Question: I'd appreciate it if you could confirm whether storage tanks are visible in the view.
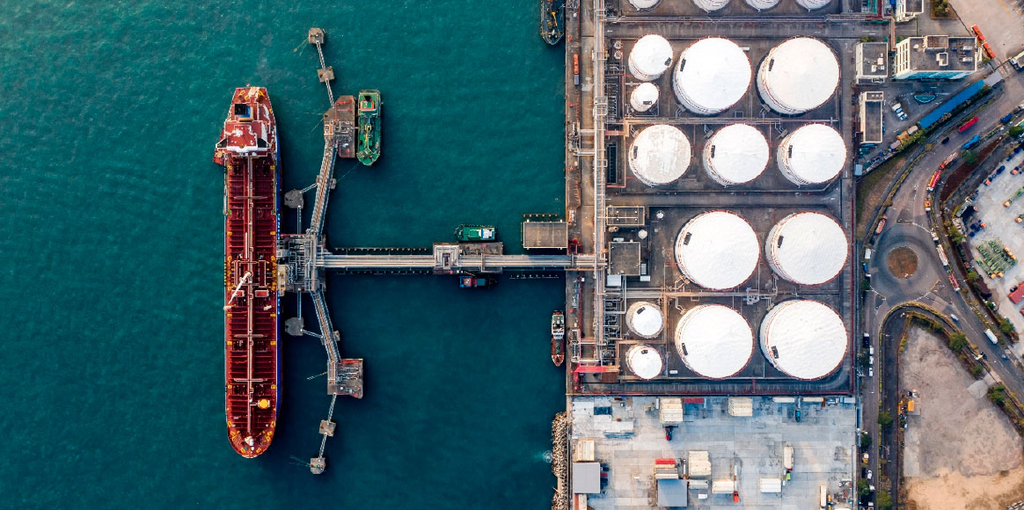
Yes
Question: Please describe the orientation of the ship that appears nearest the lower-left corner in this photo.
from top to bottom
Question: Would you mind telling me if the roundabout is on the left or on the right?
right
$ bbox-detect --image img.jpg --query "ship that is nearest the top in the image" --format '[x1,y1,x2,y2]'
[541,0,564,45]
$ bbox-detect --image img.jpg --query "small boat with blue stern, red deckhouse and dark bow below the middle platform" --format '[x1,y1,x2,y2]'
[460,270,498,289]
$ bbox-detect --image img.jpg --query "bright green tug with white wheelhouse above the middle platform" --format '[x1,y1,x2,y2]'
[454,223,498,242]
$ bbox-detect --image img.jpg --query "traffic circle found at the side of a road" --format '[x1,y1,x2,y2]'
[868,228,937,296]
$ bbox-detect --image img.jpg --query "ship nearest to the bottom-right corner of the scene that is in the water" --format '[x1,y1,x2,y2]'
[551,311,565,366]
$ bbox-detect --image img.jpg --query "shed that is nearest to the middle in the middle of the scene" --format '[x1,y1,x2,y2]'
[520,219,568,250]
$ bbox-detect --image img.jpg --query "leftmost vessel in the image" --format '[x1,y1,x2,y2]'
[213,84,282,458]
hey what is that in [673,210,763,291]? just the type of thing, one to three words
storage tank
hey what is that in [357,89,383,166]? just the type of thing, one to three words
ship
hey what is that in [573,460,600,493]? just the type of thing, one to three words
shed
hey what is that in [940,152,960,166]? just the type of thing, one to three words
vehicle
